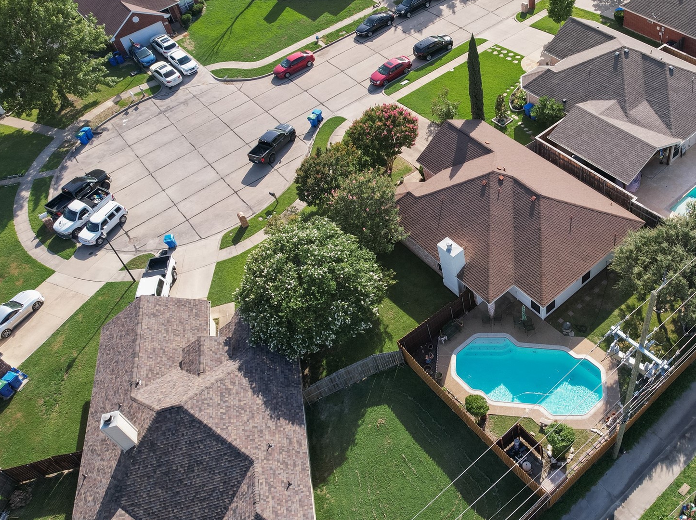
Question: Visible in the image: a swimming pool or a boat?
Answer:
swimming pool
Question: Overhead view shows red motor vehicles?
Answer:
Yes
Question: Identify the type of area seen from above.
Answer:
residential area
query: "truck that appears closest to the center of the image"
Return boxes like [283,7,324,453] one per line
[246,122,298,167]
